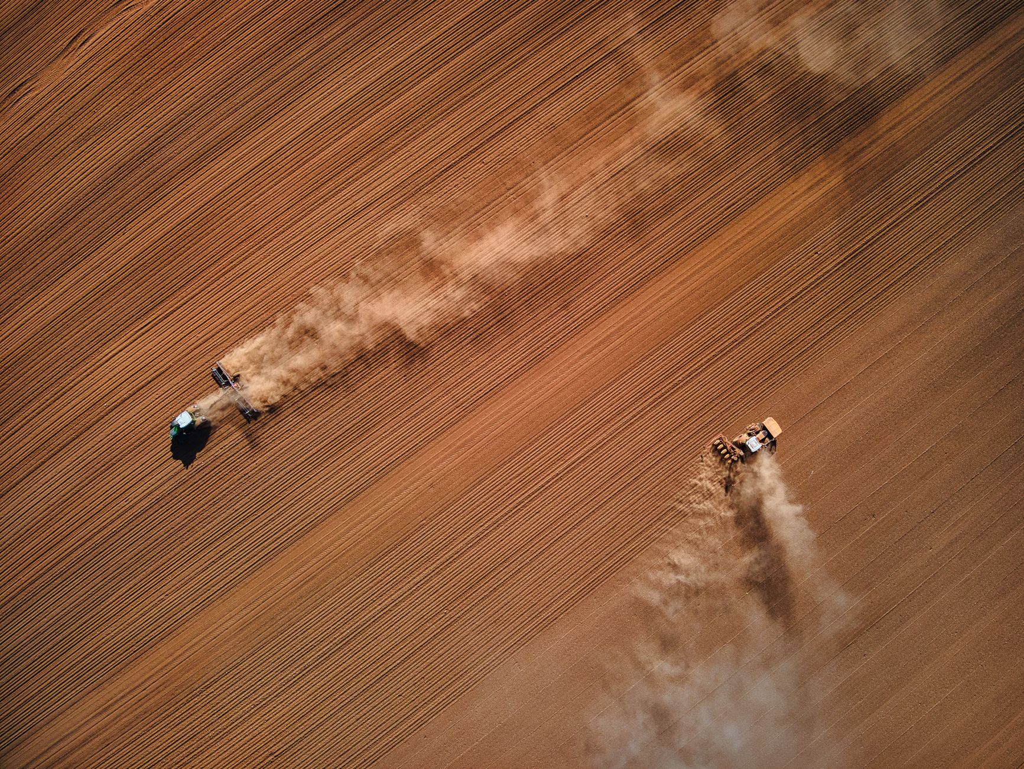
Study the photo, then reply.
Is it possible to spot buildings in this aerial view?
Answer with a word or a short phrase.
No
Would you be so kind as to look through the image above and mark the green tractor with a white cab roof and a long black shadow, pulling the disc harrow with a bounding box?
[169,404,209,440]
